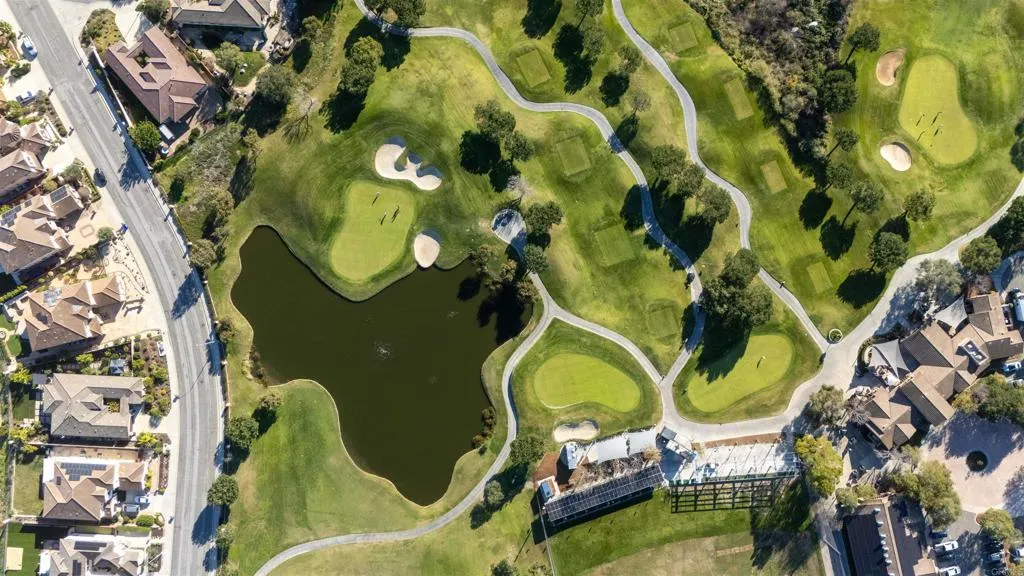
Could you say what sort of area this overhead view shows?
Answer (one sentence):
The picture captures a golf course.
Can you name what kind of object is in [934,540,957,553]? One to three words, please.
vehicle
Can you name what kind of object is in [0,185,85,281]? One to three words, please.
house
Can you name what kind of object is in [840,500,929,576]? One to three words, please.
building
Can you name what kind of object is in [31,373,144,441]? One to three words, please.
house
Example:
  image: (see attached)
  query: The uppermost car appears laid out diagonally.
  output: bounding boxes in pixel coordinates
[19,36,37,57]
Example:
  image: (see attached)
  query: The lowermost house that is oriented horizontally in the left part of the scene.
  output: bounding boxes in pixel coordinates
[49,538,143,576]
